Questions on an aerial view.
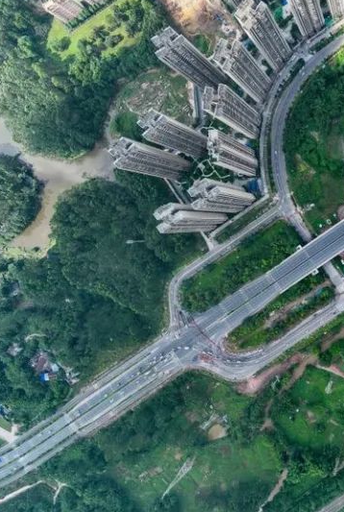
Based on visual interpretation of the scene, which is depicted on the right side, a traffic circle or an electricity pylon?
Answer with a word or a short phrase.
electricity pylon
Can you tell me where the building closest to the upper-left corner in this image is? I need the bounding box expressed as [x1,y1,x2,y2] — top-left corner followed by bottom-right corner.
[42,0,87,23]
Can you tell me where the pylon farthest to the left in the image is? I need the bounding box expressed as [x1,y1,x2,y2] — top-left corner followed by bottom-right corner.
[156,455,195,499]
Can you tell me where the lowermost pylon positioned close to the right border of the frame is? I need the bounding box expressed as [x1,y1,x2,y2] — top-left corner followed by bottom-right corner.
[327,461,344,482]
